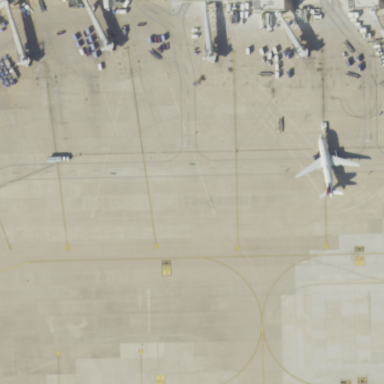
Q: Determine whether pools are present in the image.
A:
No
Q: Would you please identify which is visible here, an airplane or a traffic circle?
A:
airplane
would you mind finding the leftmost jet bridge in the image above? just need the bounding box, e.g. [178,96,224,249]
[4,0,34,66]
